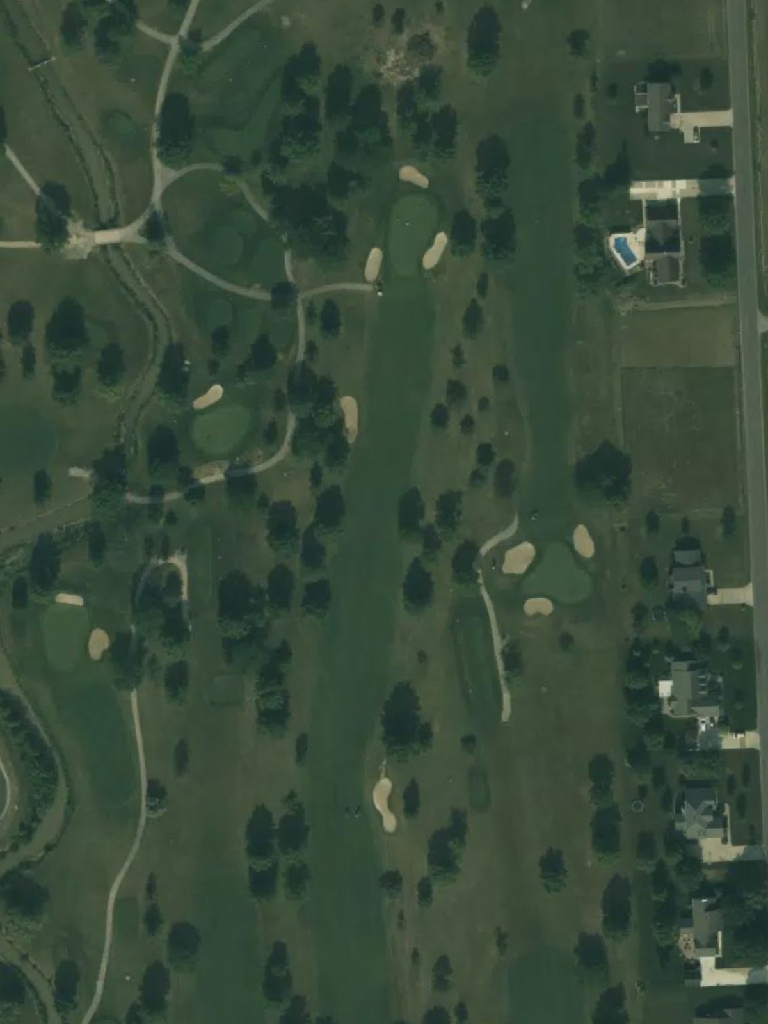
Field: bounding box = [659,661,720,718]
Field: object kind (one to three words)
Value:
house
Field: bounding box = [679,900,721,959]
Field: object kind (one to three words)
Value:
house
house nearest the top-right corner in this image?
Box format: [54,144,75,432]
[635,81,674,132]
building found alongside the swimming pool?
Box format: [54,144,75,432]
[646,218,680,284]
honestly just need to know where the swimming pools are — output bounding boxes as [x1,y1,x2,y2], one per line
[609,228,645,273]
